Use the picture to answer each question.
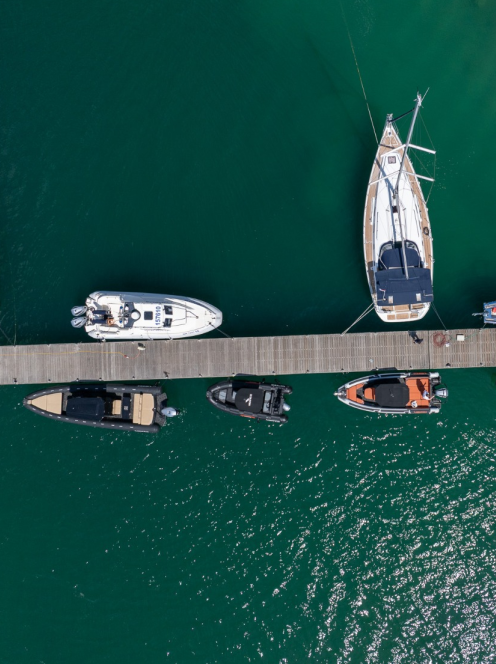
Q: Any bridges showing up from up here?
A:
No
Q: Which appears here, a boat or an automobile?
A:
boat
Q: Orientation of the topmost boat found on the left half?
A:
from left to right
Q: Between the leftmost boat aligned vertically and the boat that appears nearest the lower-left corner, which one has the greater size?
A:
the leftmost boat aligned vertically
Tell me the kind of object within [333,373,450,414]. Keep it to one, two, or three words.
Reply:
boat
